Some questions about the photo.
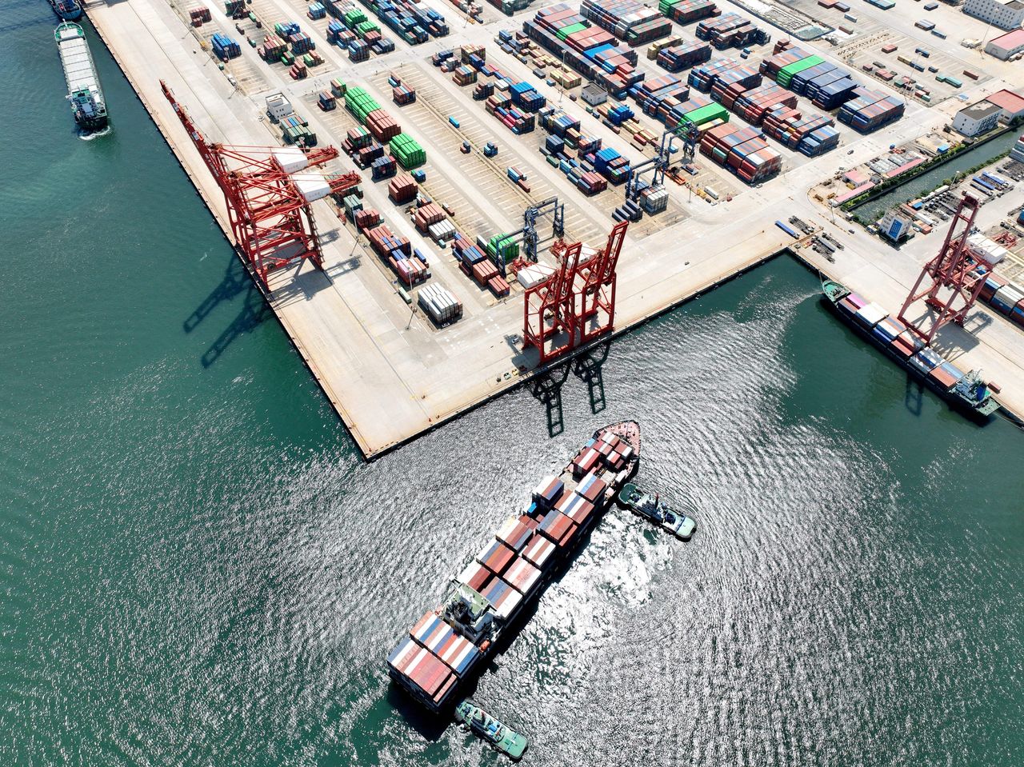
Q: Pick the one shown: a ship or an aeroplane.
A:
ship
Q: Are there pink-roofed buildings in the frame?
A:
Yes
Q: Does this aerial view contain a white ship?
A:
Yes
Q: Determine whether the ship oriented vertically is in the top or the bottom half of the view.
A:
top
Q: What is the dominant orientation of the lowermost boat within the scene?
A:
on a diagonal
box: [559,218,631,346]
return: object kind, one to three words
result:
container crane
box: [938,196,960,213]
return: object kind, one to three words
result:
vehicle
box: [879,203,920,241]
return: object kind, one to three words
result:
building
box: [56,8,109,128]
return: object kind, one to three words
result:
ship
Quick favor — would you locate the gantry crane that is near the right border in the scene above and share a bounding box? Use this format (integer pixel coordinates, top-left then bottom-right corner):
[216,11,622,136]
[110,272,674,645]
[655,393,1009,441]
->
[893,199,1009,345]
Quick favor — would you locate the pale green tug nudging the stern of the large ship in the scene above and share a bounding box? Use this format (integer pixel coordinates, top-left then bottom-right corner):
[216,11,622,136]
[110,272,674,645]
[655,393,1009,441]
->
[452,697,529,760]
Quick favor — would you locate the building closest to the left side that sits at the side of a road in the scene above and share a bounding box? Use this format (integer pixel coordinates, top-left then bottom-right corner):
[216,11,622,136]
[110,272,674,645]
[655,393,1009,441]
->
[264,91,296,123]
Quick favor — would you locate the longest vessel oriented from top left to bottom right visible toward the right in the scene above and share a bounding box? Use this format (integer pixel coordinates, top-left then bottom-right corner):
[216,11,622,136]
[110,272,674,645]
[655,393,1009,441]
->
[815,273,1023,435]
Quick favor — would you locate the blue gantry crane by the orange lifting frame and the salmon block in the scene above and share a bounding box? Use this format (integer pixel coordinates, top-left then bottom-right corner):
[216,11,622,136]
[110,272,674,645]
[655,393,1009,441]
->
[659,119,697,164]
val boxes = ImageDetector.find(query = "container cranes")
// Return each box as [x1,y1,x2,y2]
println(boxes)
[659,119,697,164]
[525,196,564,243]
[159,74,340,265]
[893,199,1009,345]
[515,239,583,367]
[495,226,535,276]
[178,101,361,296]
[625,156,665,203]
[559,218,631,346]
